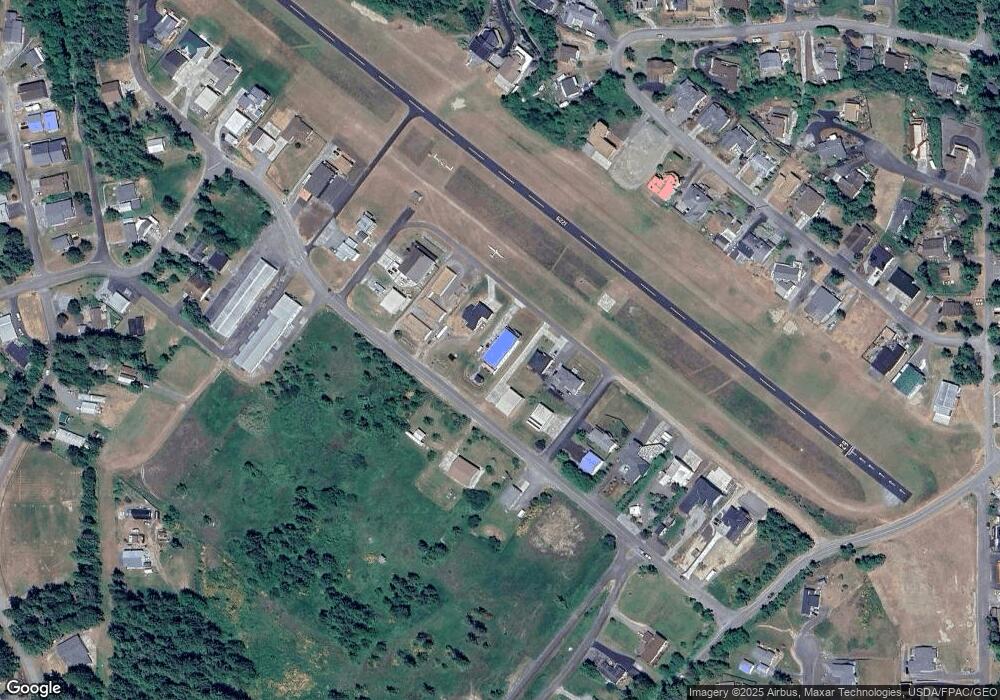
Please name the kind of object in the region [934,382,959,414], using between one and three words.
hangar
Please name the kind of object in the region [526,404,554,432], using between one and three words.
building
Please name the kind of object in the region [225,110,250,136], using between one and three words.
building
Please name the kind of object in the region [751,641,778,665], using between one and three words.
house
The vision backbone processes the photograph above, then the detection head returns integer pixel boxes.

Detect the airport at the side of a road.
[271,0,912,542]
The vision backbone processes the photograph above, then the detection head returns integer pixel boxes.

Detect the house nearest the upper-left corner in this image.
[3,10,24,45]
